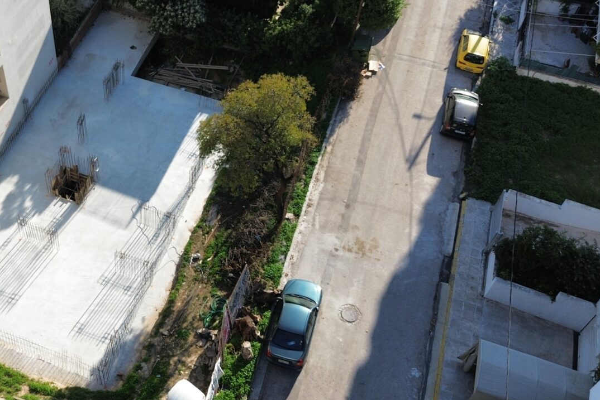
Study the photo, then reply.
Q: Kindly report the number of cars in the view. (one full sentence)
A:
Altogether the scene contains 3 cars.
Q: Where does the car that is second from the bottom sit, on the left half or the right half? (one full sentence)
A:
It is on the right.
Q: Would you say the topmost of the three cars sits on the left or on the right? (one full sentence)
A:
The topmost of the three cars sits on the right side.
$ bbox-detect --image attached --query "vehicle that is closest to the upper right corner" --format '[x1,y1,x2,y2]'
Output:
[455,29,493,70]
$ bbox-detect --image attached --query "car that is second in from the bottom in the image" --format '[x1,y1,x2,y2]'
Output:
[439,80,484,134]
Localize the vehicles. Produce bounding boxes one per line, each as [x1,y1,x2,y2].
[439,80,484,134]
[263,274,324,370]
[455,29,493,70]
